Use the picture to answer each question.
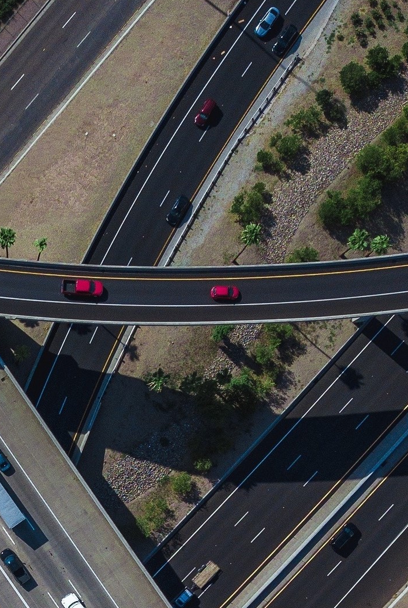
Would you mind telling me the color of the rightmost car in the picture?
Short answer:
black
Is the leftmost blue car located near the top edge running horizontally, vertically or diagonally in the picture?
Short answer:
diagonally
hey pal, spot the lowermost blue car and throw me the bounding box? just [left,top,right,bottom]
[171,586,197,608]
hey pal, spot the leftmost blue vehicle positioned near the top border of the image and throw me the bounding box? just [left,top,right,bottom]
[254,5,281,40]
